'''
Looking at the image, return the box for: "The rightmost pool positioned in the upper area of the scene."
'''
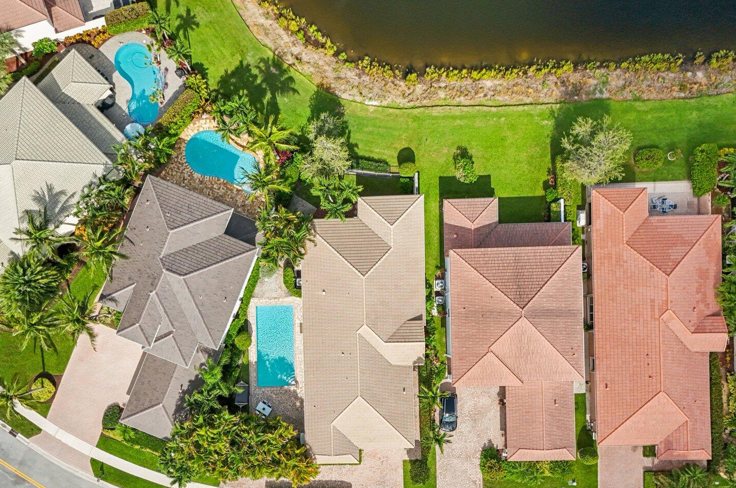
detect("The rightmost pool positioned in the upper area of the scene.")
[182,128,264,195]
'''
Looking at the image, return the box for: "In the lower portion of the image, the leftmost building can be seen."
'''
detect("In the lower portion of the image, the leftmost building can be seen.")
[98,173,258,446]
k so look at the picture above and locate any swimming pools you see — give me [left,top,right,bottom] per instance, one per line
[255,304,299,394]
[182,128,264,195]
[112,40,167,125]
